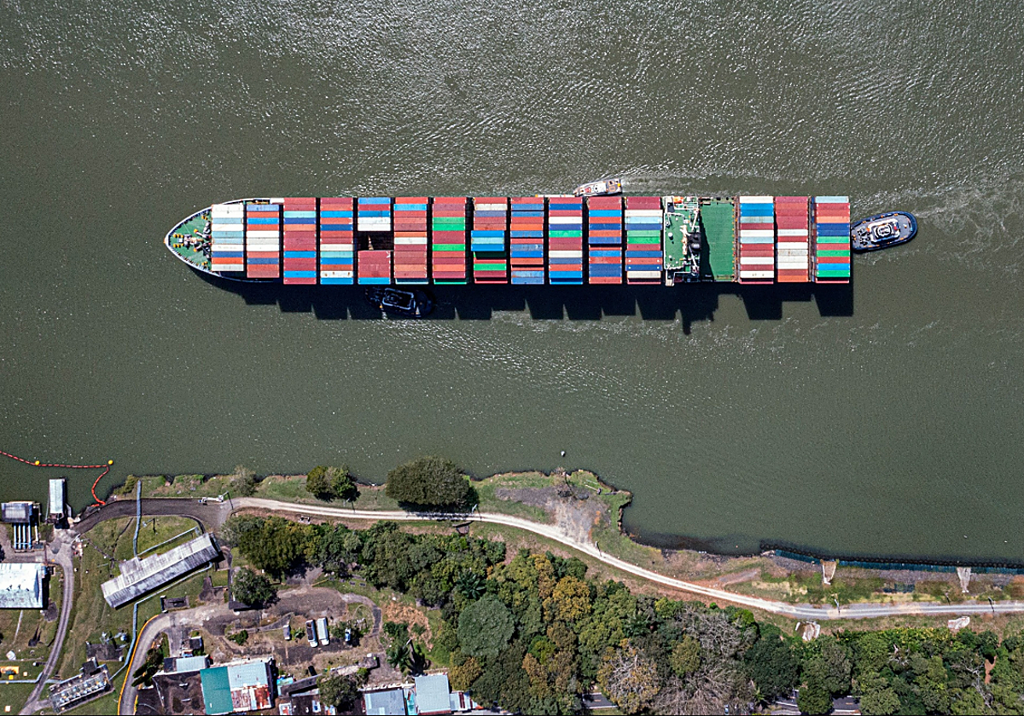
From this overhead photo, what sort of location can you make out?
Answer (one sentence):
This image shows a port.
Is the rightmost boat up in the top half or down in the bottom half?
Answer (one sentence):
The rightmost boat sits in the top half of the picture.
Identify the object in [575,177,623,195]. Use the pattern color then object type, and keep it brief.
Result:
white boat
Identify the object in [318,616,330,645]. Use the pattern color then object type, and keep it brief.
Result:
white vehicle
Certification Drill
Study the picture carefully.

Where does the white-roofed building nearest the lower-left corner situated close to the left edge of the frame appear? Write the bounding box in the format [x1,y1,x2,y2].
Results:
[0,560,55,608]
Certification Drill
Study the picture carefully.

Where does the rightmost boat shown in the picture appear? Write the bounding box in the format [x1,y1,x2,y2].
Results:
[850,210,921,252]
